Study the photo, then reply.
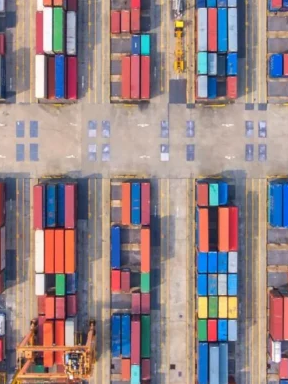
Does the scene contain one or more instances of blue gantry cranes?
No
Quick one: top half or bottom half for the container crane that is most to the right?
bottom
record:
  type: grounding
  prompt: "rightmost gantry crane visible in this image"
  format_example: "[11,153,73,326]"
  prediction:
[17,319,98,382]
